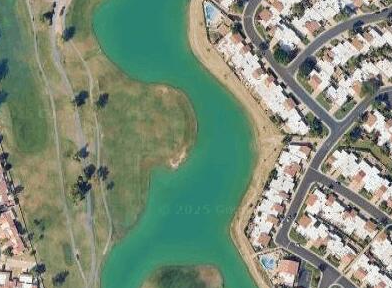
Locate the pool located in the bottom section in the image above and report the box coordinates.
[259,252,282,272]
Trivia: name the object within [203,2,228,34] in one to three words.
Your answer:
swimming pool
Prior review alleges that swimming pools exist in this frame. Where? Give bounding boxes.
[203,2,228,34]
[259,252,282,272]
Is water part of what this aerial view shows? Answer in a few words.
Yes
